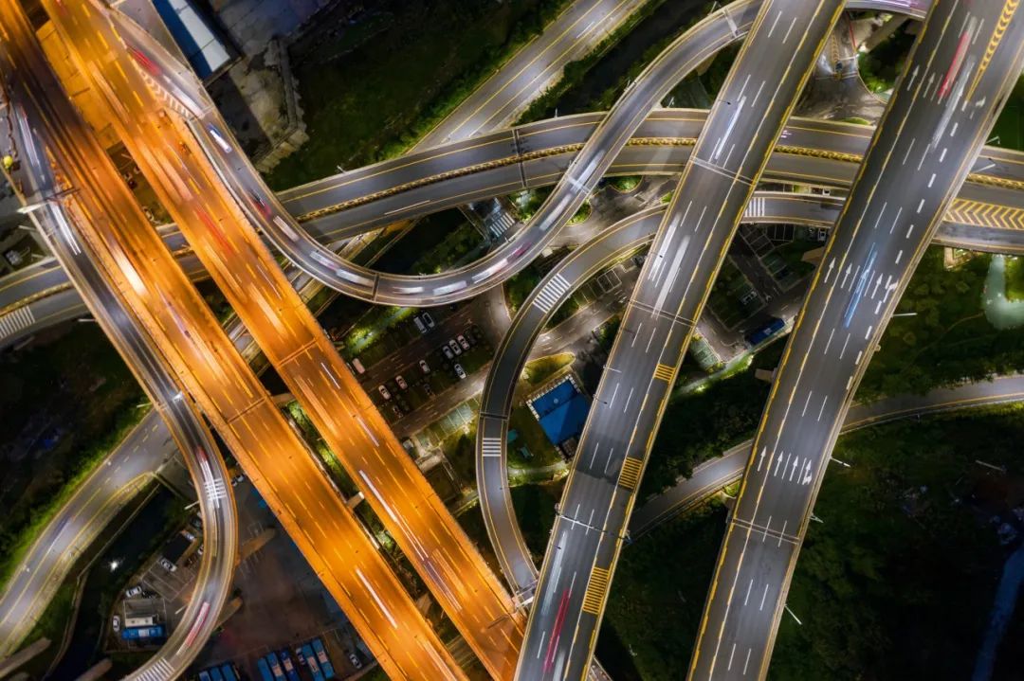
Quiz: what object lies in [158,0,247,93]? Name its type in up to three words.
building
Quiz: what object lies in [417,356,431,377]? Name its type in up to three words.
car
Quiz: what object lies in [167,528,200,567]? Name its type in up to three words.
shed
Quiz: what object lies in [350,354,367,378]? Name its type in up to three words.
vehicle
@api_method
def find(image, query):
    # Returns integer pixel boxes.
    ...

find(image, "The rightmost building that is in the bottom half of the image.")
[525,373,591,465]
